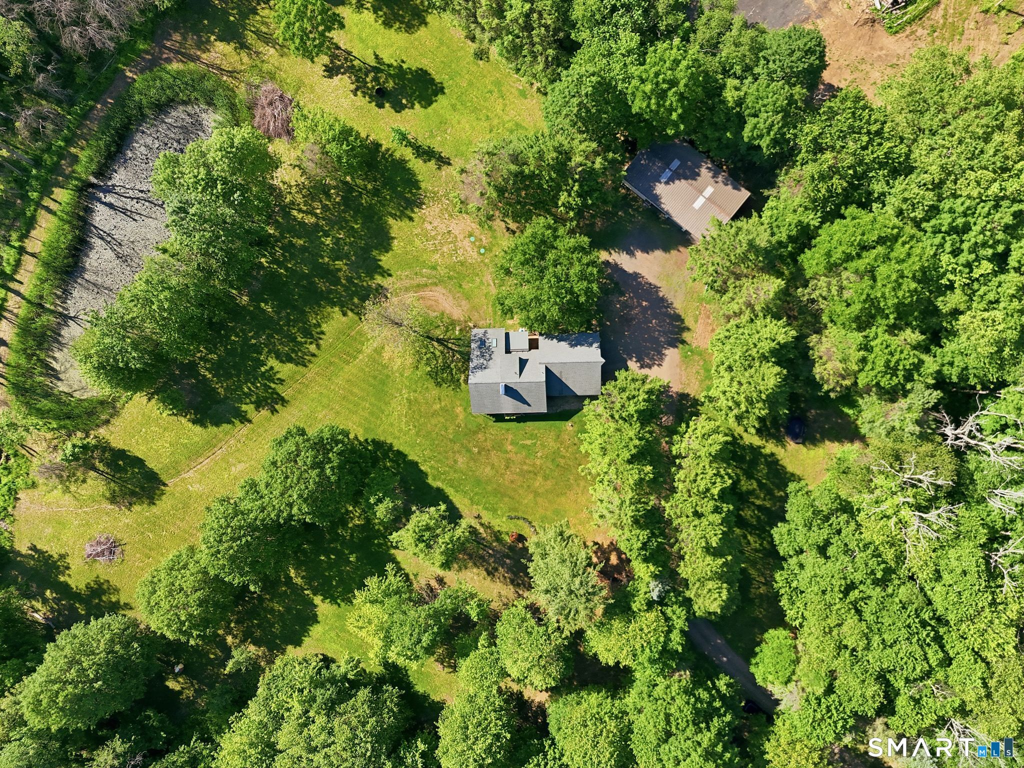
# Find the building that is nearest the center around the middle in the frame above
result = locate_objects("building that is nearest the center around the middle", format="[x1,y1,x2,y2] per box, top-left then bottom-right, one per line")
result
[468,328,605,415]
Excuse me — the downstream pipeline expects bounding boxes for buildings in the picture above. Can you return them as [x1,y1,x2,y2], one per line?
[468,328,605,415]
[624,132,751,239]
